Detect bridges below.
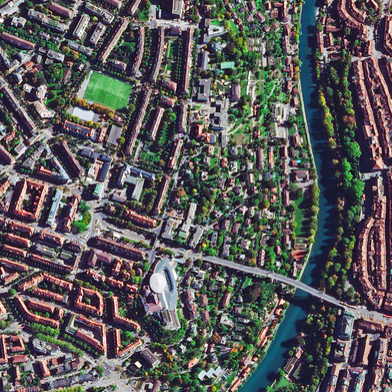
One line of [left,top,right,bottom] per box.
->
[194,251,371,317]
